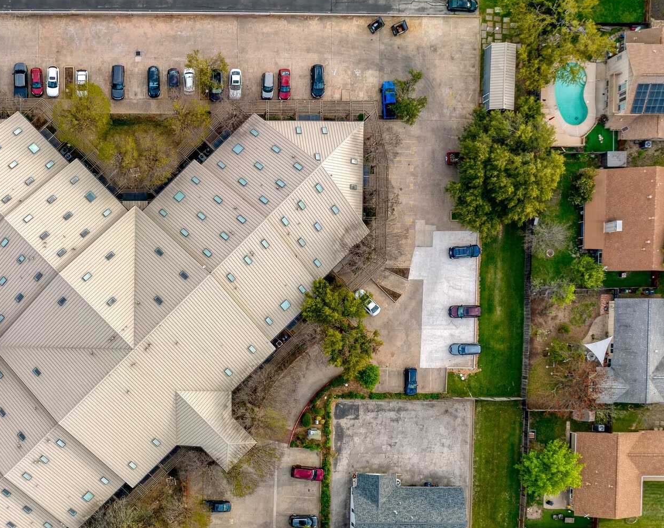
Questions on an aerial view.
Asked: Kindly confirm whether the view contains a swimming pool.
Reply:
Yes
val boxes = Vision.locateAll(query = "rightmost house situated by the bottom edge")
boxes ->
[573,432,664,521]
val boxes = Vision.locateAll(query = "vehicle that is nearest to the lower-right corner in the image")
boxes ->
[447,341,480,356]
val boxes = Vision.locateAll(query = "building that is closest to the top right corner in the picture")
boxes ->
[605,24,664,138]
